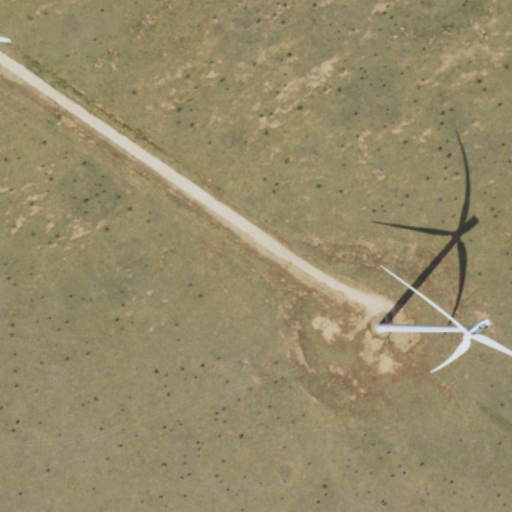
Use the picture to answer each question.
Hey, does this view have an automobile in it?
No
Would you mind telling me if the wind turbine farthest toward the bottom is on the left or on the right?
right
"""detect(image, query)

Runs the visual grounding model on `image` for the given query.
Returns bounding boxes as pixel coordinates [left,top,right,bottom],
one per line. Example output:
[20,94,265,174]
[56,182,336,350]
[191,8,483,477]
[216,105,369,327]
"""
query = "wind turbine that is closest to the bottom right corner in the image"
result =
[372,268,512,372]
